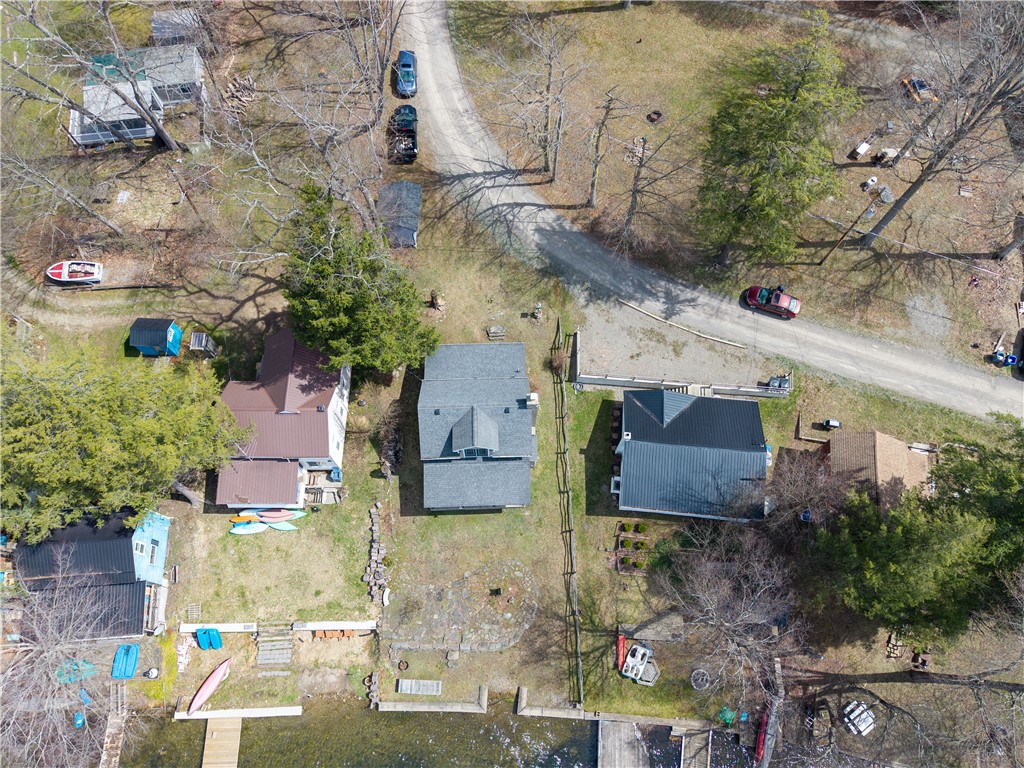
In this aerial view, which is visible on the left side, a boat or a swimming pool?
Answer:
boat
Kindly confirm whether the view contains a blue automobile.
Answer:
Yes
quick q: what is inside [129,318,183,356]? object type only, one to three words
shed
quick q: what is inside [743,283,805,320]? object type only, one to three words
car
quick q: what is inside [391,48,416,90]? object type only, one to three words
car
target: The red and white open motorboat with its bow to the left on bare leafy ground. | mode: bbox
[42,257,102,281]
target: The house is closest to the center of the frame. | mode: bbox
[418,344,539,511]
